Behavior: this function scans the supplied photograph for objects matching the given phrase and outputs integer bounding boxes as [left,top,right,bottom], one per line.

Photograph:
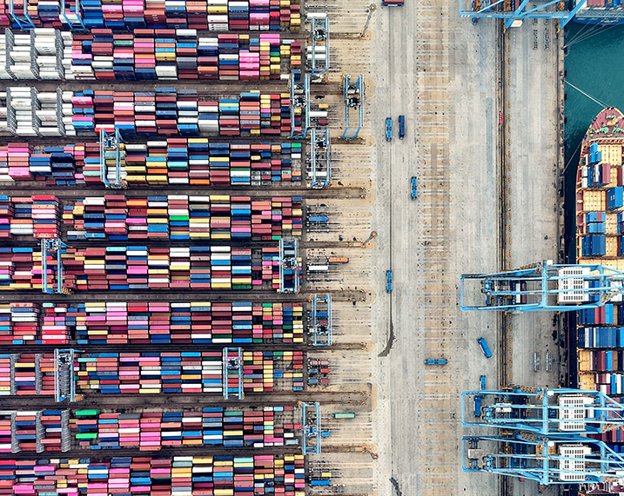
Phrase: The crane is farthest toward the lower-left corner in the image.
[55,348,88,403]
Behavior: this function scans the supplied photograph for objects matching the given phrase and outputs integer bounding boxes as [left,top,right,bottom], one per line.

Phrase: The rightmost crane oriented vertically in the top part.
[336,71,367,137]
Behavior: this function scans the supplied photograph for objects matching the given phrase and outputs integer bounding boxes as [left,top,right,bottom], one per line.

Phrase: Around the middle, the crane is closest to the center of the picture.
[275,236,303,293]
